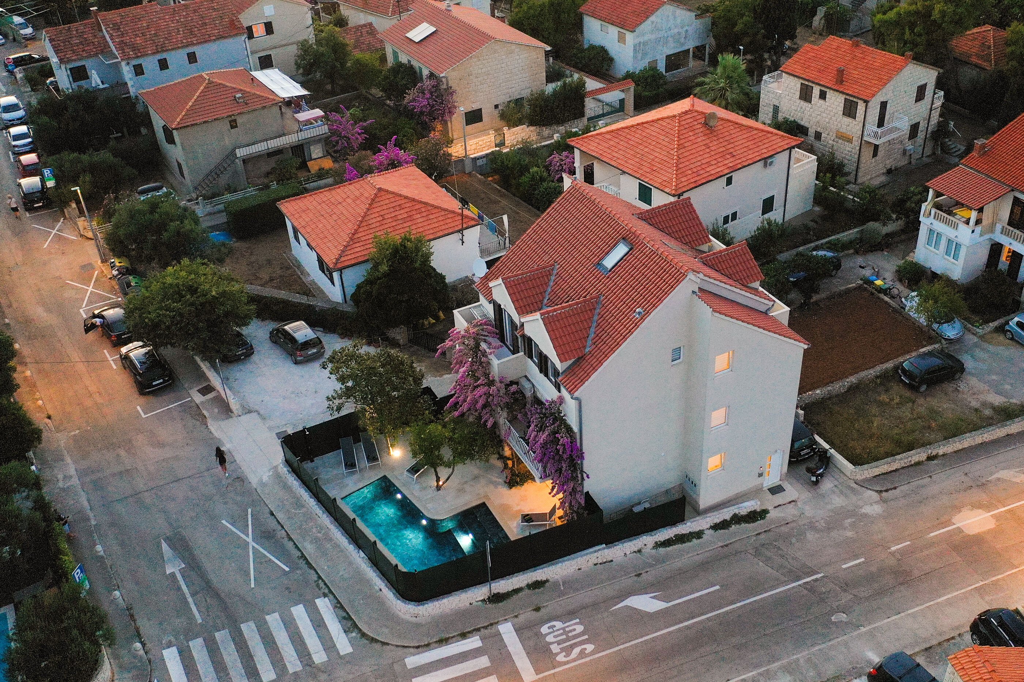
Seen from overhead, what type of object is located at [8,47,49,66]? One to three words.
car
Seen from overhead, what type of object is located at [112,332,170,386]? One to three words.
car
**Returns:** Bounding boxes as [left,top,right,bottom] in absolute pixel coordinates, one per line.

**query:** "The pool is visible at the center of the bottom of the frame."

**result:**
[339,470,521,574]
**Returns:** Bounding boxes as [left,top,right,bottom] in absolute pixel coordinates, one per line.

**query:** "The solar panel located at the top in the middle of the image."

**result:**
[405,22,438,43]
